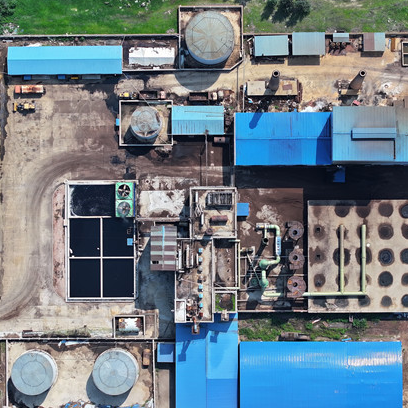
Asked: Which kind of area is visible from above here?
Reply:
industrial area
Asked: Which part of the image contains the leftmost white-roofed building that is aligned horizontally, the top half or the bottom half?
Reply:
top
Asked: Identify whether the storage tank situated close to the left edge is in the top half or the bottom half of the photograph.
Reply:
bottom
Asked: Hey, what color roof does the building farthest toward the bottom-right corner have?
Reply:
blue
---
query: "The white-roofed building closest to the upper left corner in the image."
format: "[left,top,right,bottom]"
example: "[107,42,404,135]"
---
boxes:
[127,47,176,66]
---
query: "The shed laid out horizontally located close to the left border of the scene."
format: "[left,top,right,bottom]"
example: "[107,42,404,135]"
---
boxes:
[6,45,123,76]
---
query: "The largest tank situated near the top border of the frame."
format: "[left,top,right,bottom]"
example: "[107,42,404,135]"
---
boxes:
[184,10,234,64]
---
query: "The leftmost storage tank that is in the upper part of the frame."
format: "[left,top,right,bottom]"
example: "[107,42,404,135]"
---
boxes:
[131,106,166,141]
